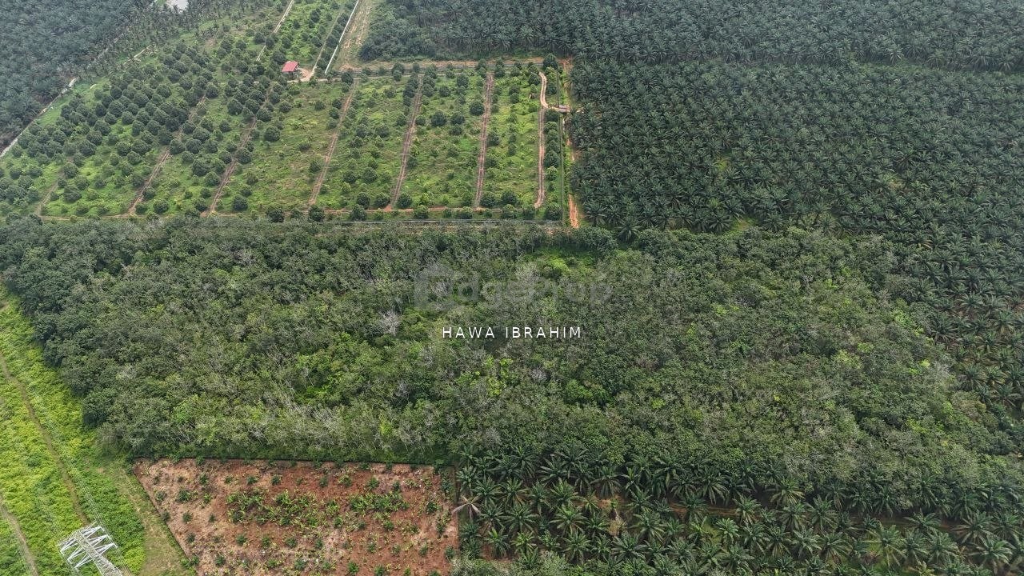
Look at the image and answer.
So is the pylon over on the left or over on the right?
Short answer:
left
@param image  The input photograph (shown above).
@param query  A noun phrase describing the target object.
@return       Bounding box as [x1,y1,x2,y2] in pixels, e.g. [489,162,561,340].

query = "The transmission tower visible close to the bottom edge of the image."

[52,518,145,576]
